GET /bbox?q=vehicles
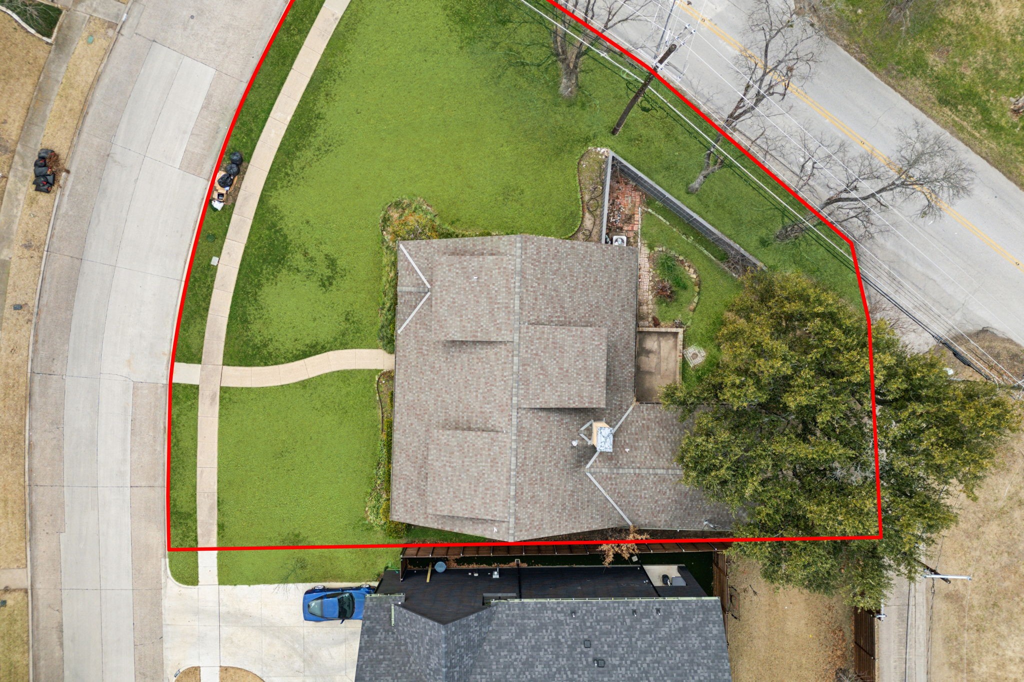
[303,588,368,626]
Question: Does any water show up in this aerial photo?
No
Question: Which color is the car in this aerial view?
blue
